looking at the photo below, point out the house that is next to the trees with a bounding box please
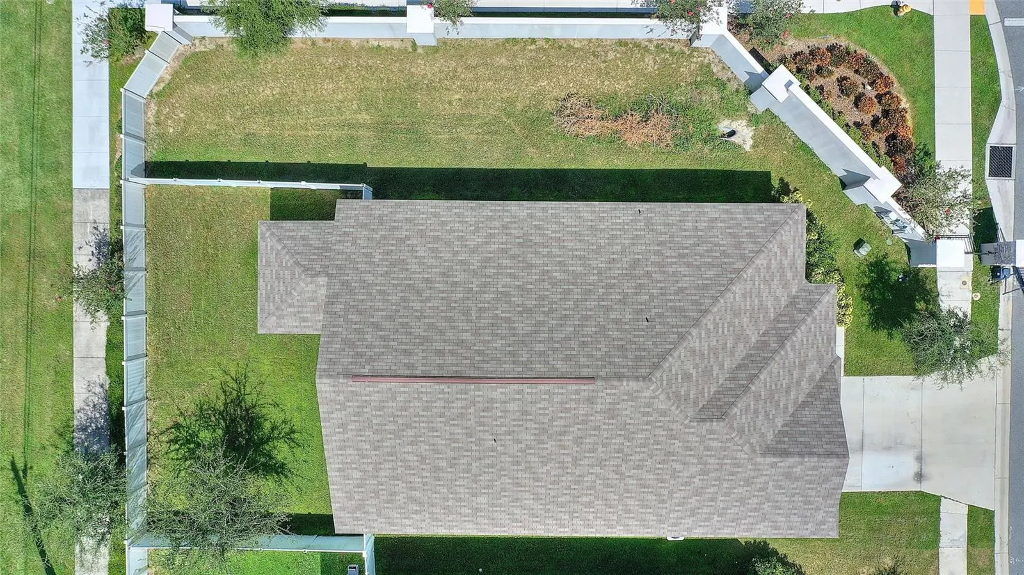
[255,200,849,539]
